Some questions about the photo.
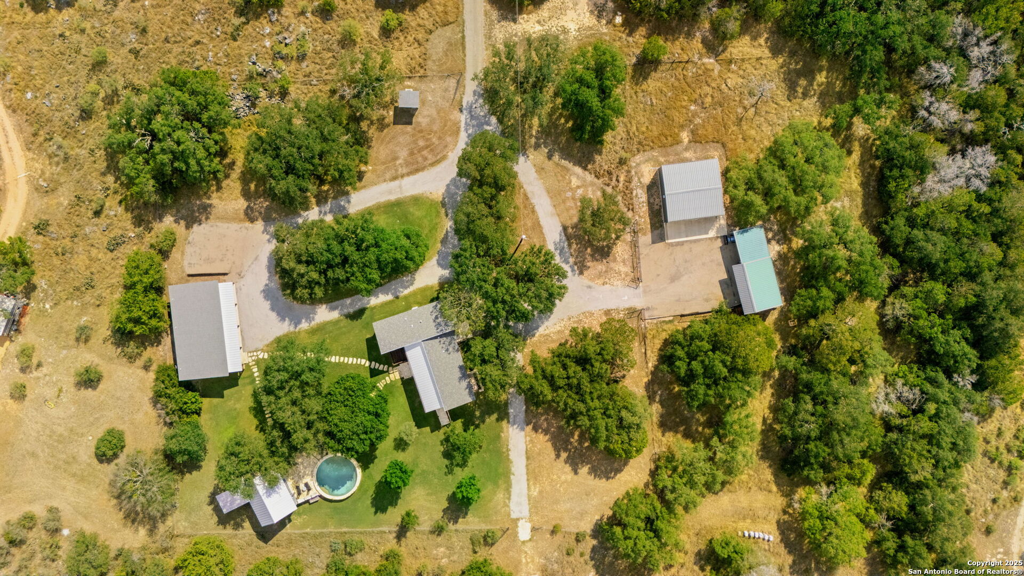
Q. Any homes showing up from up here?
Yes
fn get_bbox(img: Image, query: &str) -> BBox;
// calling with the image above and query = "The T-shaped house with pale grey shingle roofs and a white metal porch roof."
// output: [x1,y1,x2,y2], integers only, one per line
[372,299,475,413]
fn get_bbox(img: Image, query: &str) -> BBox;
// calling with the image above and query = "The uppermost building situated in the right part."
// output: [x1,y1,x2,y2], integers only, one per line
[658,158,725,224]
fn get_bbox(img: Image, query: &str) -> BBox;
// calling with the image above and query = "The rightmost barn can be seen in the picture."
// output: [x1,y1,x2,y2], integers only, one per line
[728,225,783,314]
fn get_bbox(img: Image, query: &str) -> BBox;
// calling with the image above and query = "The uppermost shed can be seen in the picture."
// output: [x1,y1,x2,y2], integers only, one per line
[399,86,421,112]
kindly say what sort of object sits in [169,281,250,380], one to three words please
barn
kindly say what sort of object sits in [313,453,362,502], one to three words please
swimming pool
